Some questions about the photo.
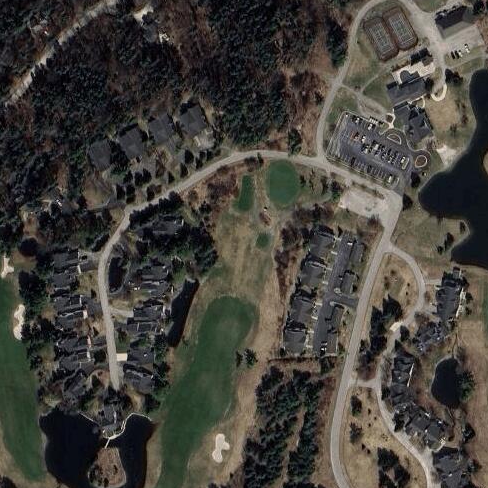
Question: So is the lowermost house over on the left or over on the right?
right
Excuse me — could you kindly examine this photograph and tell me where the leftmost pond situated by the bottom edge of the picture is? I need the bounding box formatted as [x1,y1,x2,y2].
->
[40,409,154,488]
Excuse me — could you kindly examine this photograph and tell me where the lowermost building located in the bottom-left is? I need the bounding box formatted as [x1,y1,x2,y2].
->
[99,408,120,436]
